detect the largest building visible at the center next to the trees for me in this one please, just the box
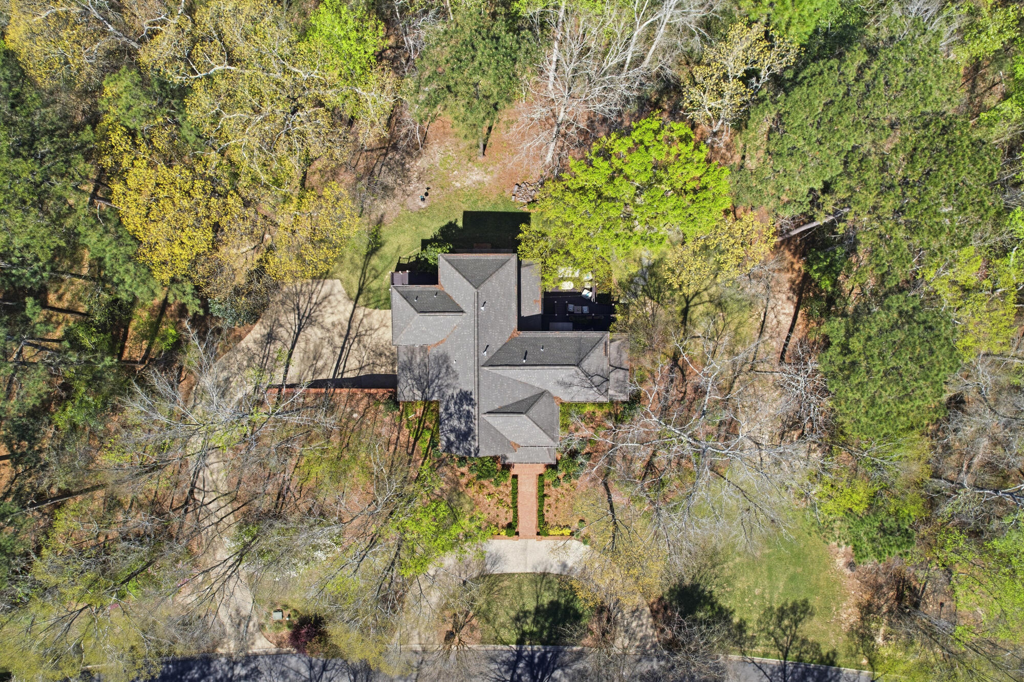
[390,252,631,466]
